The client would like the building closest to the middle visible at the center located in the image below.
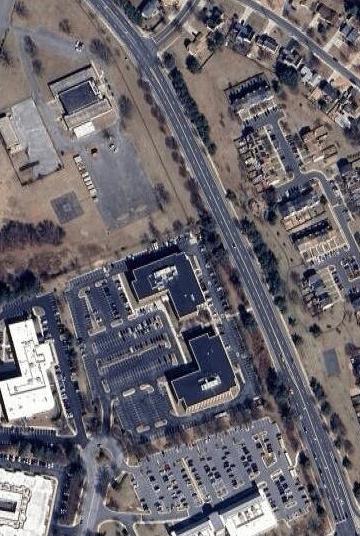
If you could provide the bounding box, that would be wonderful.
[133,252,206,320]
